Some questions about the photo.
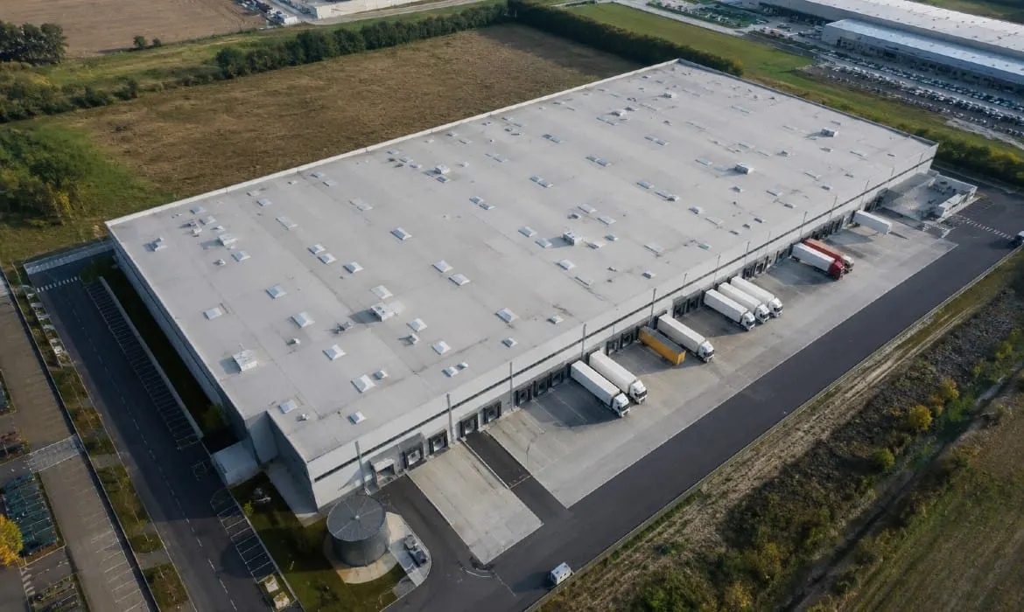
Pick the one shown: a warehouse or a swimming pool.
warehouse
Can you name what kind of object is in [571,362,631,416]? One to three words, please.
truck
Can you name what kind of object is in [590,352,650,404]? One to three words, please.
truck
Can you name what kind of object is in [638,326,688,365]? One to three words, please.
trailer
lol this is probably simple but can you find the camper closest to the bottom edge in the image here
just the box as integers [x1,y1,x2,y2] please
[549,557,573,581]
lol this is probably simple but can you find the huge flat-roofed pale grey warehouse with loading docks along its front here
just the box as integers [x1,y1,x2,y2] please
[105,58,942,509]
